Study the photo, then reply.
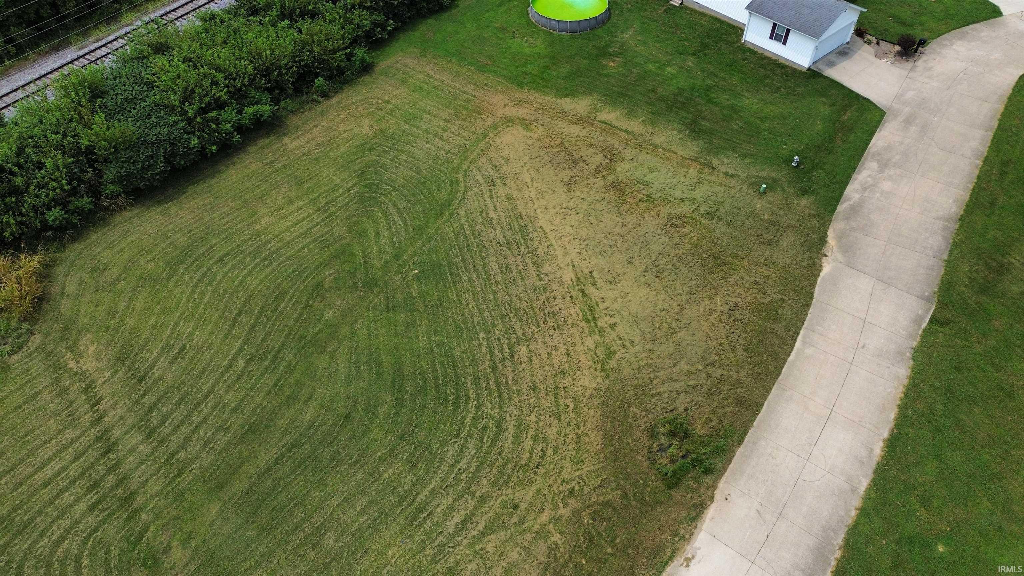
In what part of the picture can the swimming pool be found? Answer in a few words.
top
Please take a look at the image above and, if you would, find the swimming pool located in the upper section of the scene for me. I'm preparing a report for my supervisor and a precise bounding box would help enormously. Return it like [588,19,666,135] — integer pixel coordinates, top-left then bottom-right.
[528,0,609,35]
